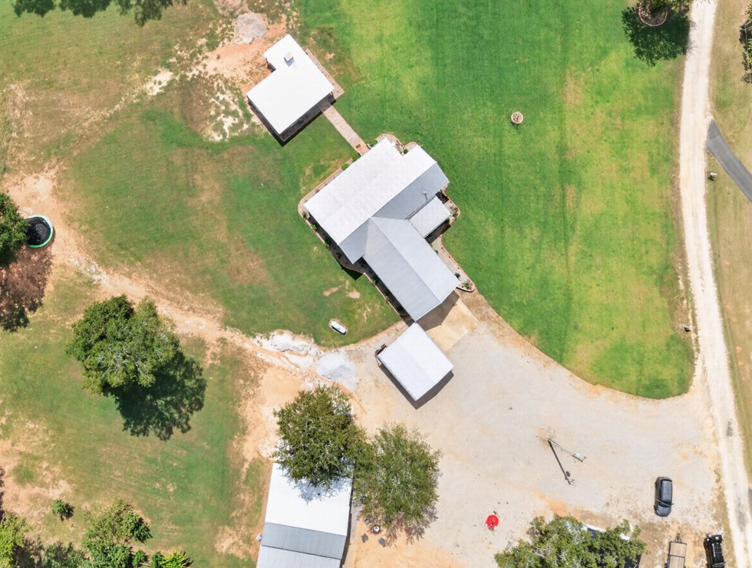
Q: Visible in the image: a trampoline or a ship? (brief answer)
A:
trampoline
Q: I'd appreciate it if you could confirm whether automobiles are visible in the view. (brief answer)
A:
Yes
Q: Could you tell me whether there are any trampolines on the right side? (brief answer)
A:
No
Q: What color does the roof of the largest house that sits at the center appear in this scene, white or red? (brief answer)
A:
white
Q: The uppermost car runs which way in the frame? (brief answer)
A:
from top to bottom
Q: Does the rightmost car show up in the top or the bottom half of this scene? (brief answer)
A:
bottom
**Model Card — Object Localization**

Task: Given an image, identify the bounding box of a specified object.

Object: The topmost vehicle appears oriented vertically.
[654,477,678,520]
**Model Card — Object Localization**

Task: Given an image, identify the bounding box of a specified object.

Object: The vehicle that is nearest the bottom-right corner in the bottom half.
[703,534,728,568]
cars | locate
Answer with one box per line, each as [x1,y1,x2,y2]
[654,477,678,520]
[703,534,728,568]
